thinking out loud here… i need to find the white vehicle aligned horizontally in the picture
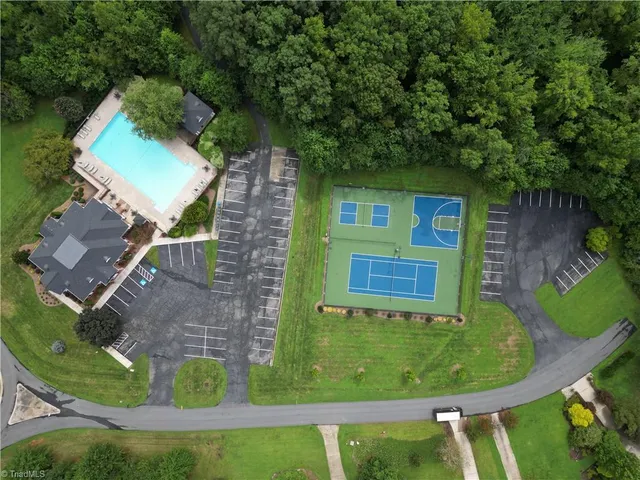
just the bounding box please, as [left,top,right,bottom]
[434,408,462,422]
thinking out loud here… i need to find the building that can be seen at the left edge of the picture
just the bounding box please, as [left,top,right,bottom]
[28,197,135,303]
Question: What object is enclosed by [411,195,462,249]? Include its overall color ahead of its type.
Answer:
blue basketball court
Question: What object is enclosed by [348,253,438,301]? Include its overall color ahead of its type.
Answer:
blue tennis court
